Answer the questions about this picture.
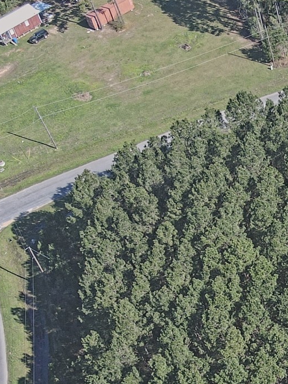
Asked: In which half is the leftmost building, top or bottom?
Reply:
top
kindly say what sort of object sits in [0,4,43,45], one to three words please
building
